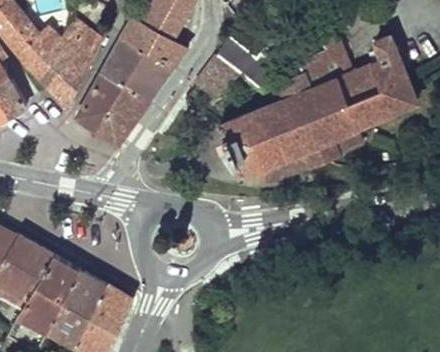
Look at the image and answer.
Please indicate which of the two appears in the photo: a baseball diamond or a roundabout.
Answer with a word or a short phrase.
roundabout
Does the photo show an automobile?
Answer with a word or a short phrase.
Yes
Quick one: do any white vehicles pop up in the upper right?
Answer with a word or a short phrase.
Yes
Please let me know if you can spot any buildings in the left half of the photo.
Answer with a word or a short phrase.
Yes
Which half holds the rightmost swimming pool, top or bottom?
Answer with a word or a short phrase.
top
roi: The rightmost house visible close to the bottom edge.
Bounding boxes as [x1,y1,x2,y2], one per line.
[78,286,134,352]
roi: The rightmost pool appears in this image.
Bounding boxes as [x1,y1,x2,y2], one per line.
[32,0,69,26]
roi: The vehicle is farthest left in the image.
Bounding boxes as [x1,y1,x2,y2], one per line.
[8,120,30,138]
